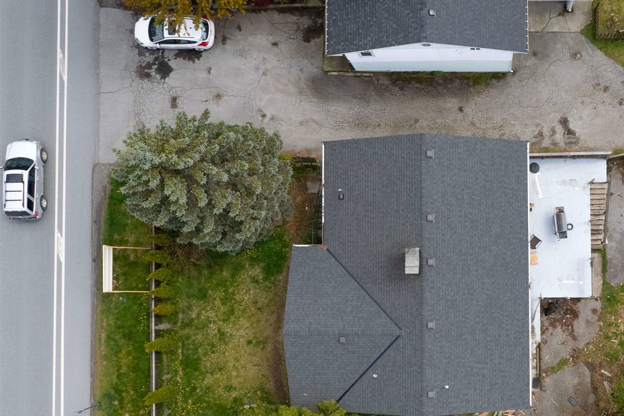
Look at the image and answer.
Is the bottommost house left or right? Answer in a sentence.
You can find the bottommost house on the right side of the picture.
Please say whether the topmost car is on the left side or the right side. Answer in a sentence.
The topmost car sits on the left side.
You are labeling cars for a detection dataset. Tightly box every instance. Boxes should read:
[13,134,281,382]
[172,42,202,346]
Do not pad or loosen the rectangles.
[135,9,216,49]
[1,139,48,220]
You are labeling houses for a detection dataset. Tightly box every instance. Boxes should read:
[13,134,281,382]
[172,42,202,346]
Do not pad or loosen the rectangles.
[318,0,530,74]
[283,136,533,416]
